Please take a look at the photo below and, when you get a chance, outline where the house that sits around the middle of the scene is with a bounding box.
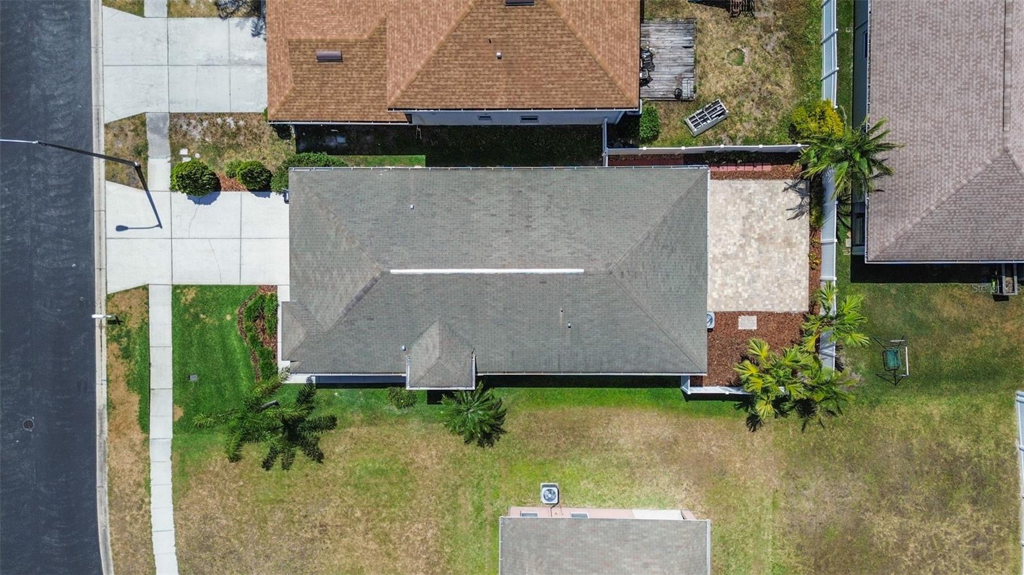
[281,167,709,389]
